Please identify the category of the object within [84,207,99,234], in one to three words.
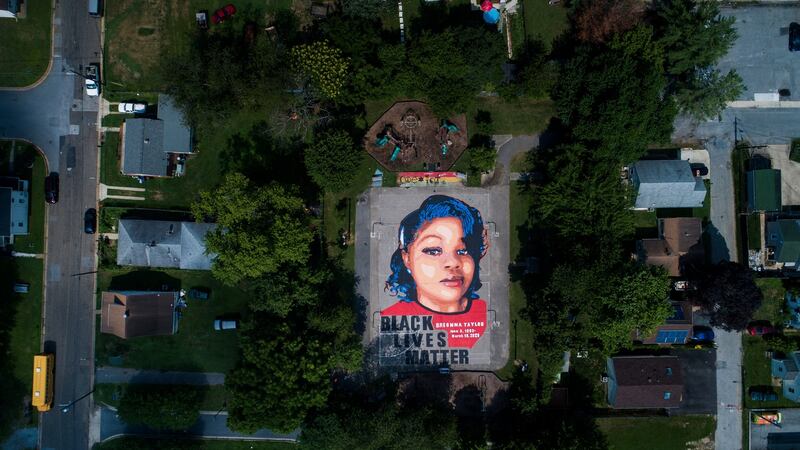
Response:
car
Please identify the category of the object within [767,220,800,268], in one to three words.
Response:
house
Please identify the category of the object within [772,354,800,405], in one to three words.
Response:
house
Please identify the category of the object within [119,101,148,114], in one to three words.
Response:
vehicle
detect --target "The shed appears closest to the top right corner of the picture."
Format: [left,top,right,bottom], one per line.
[744,169,781,212]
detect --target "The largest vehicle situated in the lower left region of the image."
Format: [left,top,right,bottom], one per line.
[30,351,56,407]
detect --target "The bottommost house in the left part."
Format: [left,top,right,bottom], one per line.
[100,291,187,338]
